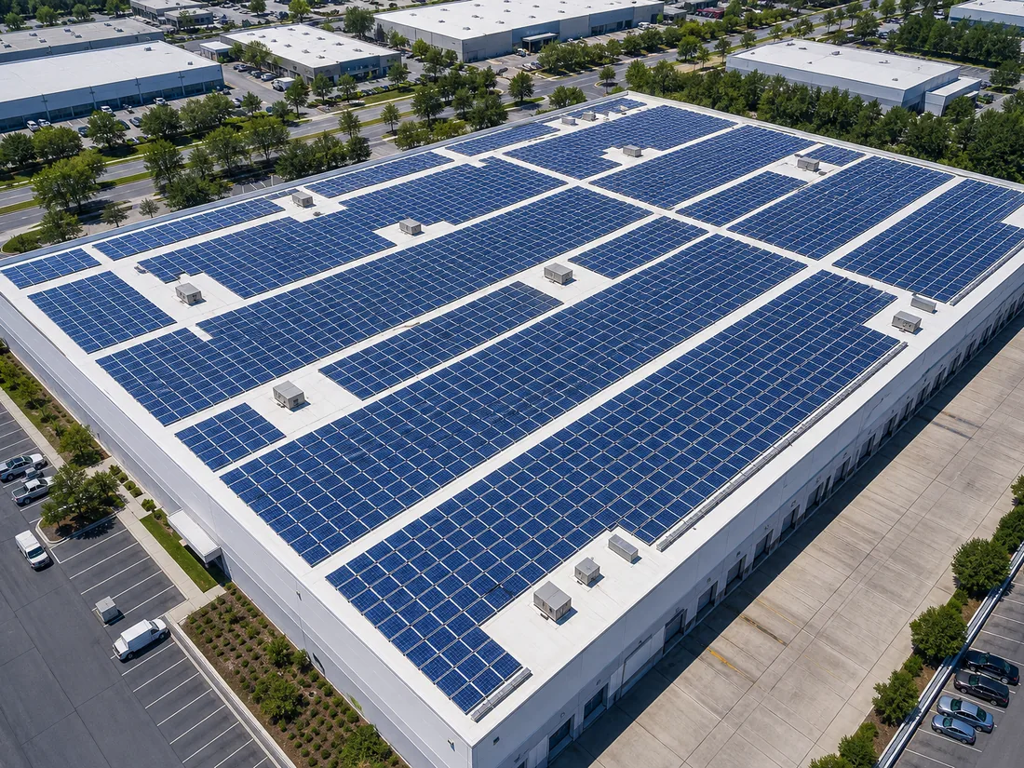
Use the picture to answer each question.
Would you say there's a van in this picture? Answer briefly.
Yes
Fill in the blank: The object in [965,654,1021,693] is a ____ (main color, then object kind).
black car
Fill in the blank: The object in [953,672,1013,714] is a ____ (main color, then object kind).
black car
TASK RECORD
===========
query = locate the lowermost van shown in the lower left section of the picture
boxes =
[113,615,175,659]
